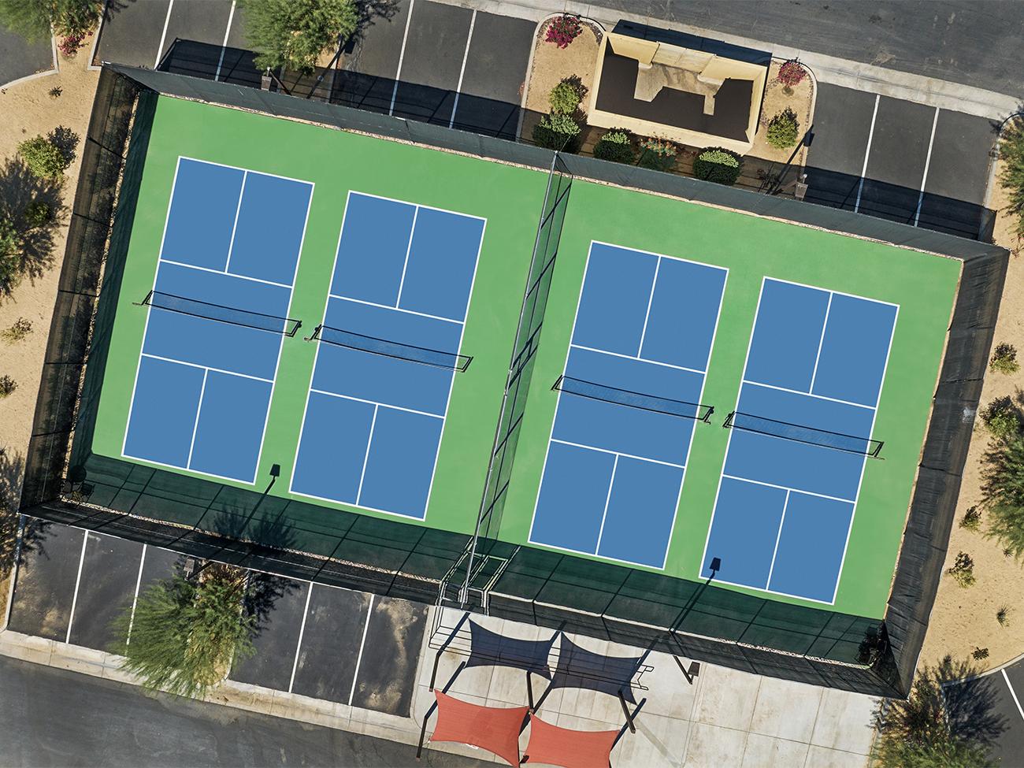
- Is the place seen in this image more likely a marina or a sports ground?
sports ground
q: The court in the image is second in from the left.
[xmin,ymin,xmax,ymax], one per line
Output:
[263,135,550,582]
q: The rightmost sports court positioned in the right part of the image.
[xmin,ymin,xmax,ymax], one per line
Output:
[671,220,960,666]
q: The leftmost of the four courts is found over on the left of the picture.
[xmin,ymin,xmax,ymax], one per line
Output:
[69,94,343,539]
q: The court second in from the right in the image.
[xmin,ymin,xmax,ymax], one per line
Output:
[468,178,757,624]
